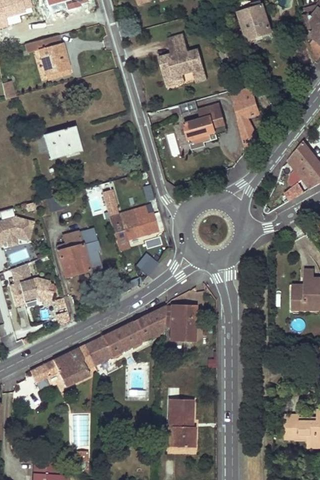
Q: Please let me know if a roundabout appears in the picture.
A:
Yes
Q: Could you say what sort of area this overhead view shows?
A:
residential area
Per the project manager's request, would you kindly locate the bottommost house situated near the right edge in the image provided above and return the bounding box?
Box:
[284,412,320,450]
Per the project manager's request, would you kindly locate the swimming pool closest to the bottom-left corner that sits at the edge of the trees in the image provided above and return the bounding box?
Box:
[72,415,89,447]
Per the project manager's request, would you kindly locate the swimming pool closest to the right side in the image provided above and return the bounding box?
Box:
[290,318,306,334]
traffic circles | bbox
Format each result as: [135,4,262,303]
[174,192,254,277]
